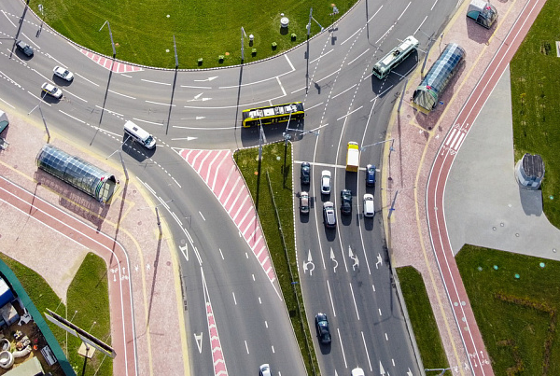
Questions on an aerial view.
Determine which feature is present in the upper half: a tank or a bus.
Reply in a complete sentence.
Visible in the upper half is a bus.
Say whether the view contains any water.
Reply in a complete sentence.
No, the picture contains no water.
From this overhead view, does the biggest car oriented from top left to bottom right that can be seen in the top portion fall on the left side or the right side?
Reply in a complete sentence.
The biggest car oriented from top left to bottom right that can be seen in the top portion sits on the left side.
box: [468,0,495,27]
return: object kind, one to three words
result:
building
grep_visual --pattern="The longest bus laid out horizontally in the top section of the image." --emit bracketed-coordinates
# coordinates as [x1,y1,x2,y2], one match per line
[240,101,306,127]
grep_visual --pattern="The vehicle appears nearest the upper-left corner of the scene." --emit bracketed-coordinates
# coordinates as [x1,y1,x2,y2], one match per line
[14,39,36,57]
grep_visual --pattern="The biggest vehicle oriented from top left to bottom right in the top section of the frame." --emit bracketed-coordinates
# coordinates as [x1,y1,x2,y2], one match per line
[123,120,157,149]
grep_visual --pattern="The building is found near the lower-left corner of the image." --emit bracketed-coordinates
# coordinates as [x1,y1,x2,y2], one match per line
[1,303,21,329]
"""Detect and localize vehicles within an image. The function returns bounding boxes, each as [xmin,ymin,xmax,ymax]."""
[363,195,375,219]
[259,362,272,376]
[40,82,64,99]
[324,203,337,228]
[14,39,36,57]
[321,170,332,195]
[52,66,75,82]
[315,314,331,344]
[123,120,157,149]
[300,162,312,185]
[240,101,306,127]
[352,369,364,376]
[340,191,352,216]
[366,164,377,186]
[299,191,311,216]
[369,35,425,79]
